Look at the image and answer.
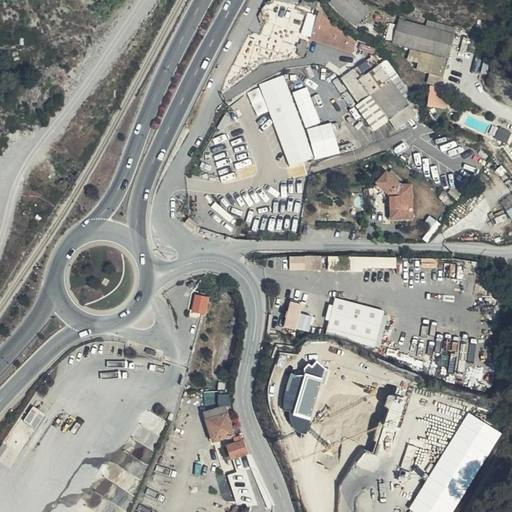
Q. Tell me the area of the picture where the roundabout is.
left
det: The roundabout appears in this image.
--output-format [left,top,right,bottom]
[48,218,156,332]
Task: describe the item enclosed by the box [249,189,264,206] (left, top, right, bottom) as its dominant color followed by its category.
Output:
white vehicle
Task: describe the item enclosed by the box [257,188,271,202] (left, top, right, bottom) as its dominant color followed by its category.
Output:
white camper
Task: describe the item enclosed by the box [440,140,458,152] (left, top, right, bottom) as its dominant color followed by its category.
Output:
white vehicle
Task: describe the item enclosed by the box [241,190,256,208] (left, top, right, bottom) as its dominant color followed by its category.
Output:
white camper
